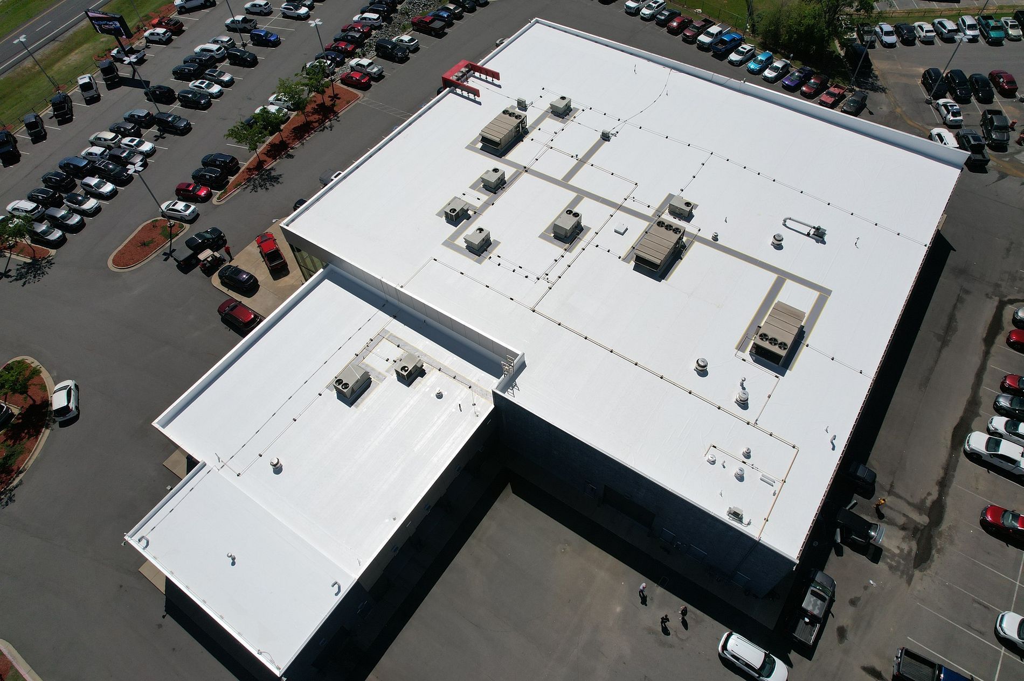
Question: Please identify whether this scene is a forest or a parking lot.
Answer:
parking lot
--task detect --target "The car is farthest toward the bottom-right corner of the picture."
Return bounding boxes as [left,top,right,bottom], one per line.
[990,617,1024,657]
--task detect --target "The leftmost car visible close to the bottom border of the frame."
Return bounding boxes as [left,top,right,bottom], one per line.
[712,627,795,681]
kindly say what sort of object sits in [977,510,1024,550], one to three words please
car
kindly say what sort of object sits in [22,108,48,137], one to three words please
truck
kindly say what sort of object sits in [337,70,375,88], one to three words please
car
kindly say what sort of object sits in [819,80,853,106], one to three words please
truck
